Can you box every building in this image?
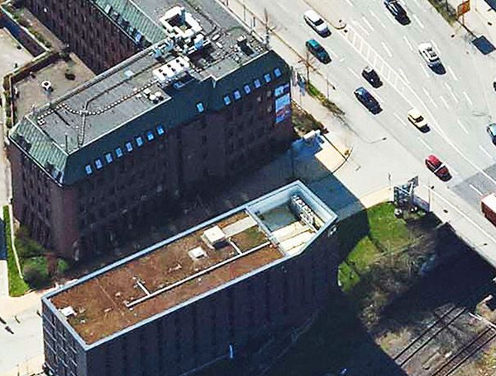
[8,0,294,261]
[42,179,343,376]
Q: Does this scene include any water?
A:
No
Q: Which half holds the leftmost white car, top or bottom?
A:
top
